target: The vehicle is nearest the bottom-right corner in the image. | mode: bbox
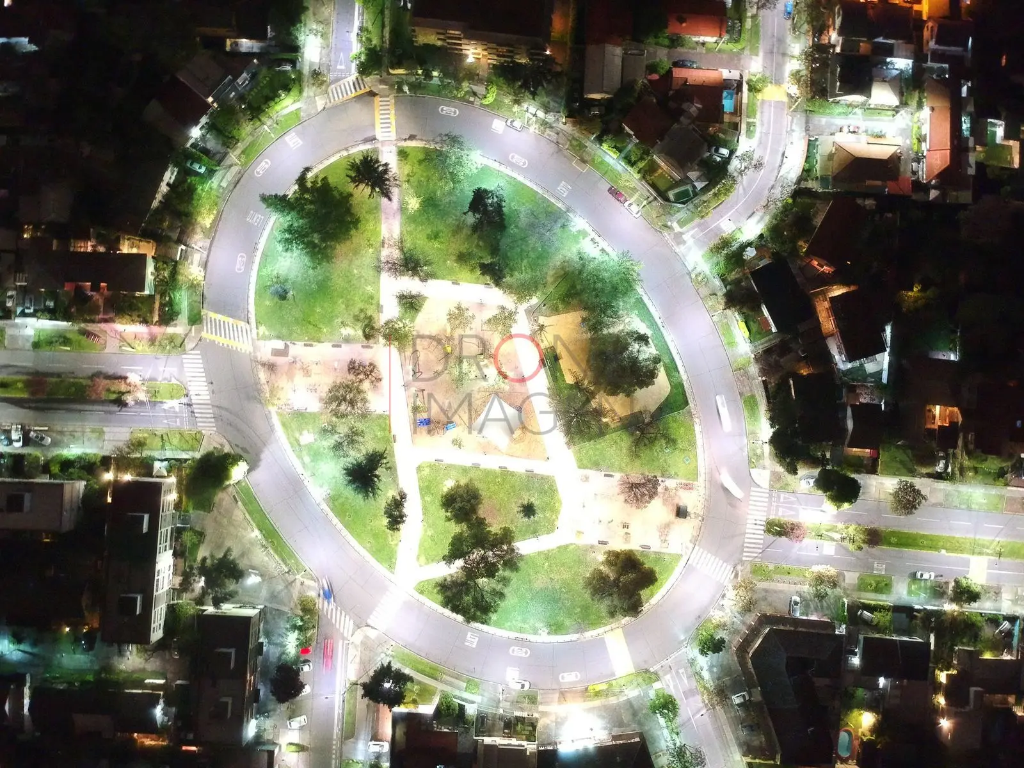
[995,620,1011,636]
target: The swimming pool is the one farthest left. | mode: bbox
[670,184,694,201]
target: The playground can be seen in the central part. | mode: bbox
[401,299,549,460]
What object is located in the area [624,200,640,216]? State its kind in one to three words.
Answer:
car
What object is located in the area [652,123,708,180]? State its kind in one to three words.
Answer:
house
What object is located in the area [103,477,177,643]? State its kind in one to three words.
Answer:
building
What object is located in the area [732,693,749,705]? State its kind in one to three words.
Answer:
vehicle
